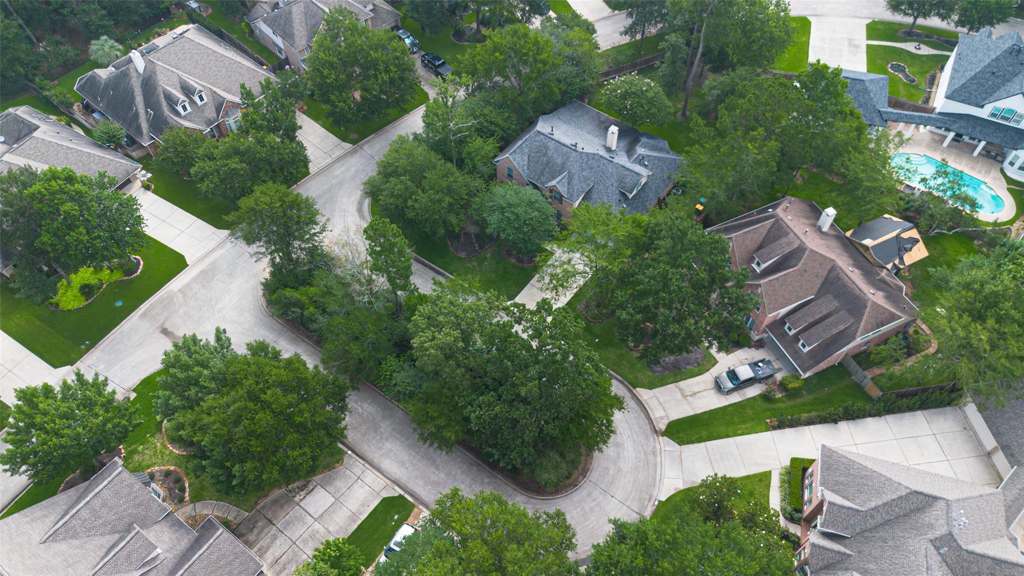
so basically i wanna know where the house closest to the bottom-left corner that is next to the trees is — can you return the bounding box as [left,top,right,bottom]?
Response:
[0,456,268,576]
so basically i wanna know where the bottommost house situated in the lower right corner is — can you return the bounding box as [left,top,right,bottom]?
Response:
[796,442,1024,576]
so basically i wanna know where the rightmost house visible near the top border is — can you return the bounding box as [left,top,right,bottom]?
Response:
[880,13,1024,181]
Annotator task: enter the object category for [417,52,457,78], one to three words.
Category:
truck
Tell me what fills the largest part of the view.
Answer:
trees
